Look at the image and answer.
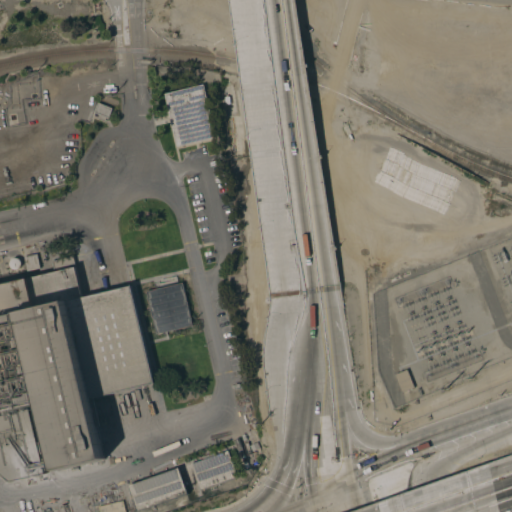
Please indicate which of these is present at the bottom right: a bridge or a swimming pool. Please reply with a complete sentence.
Looking at the bottom right, you will find a bridge.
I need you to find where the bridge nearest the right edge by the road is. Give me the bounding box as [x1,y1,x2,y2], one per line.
[348,454,512,512]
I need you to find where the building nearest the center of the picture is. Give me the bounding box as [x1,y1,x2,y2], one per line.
[148,284,193,332]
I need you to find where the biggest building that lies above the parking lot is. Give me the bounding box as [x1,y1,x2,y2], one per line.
[165,85,214,148]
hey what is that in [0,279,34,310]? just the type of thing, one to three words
building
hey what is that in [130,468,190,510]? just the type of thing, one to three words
shed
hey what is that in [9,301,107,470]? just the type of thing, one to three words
building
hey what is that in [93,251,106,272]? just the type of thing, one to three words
vehicle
